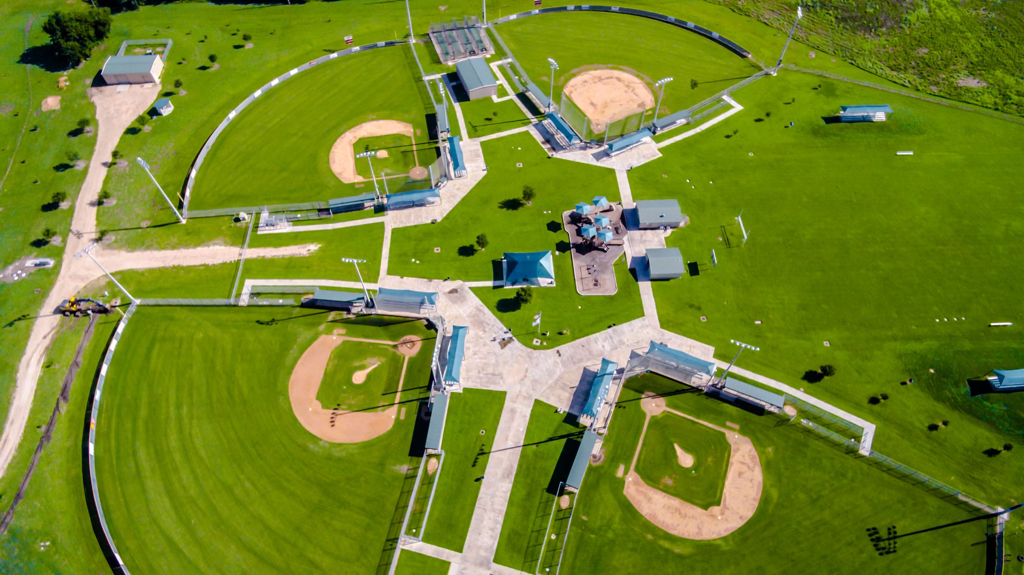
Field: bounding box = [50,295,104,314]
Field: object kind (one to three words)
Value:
work vehicle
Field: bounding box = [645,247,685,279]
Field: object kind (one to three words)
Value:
shed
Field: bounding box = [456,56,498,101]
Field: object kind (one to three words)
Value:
building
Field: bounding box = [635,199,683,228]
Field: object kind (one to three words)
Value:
shed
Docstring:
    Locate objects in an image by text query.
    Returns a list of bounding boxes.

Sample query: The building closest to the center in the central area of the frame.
[502,250,555,289]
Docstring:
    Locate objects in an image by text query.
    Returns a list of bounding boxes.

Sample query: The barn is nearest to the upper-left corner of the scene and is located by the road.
[101,54,164,88]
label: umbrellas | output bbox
[593,197,607,212]
[598,231,613,246]
[575,203,590,219]
[594,216,609,231]
[581,227,596,240]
